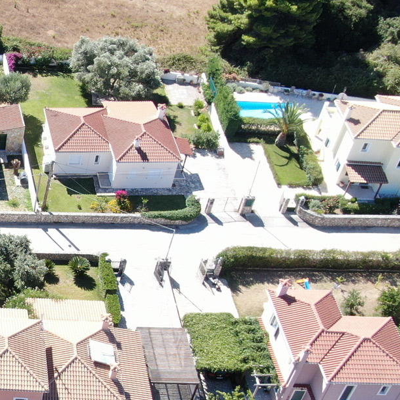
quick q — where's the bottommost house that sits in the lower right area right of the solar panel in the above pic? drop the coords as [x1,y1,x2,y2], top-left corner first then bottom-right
[262,277,400,400]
